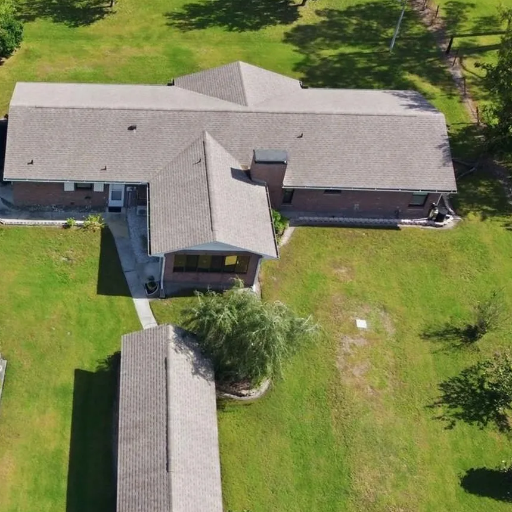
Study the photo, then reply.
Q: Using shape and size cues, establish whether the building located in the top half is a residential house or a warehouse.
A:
residential house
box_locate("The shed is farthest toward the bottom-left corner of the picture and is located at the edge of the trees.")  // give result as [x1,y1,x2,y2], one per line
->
[116,323,224,512]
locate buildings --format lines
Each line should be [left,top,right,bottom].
[3,59,457,290]
[116,323,224,512]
